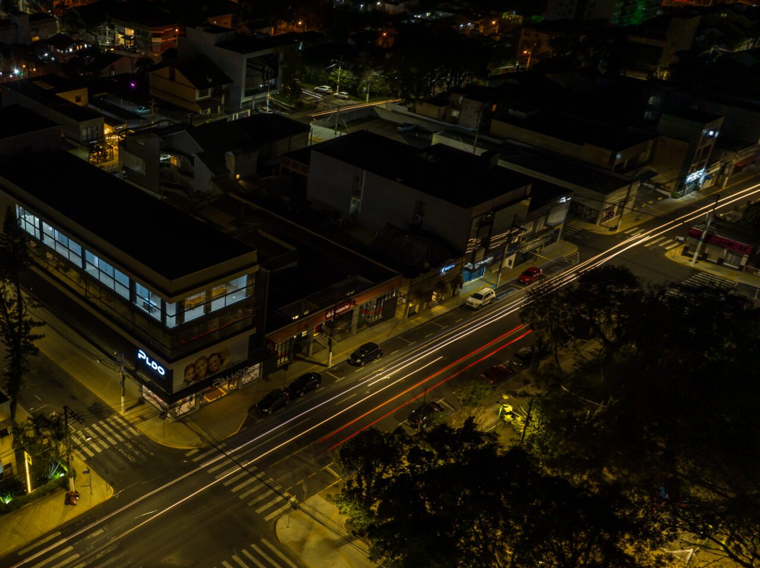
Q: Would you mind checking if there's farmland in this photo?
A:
No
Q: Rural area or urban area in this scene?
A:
urban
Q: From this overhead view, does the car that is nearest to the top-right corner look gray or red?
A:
red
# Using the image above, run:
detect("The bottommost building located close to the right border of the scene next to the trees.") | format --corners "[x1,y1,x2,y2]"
[686,196,760,273]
